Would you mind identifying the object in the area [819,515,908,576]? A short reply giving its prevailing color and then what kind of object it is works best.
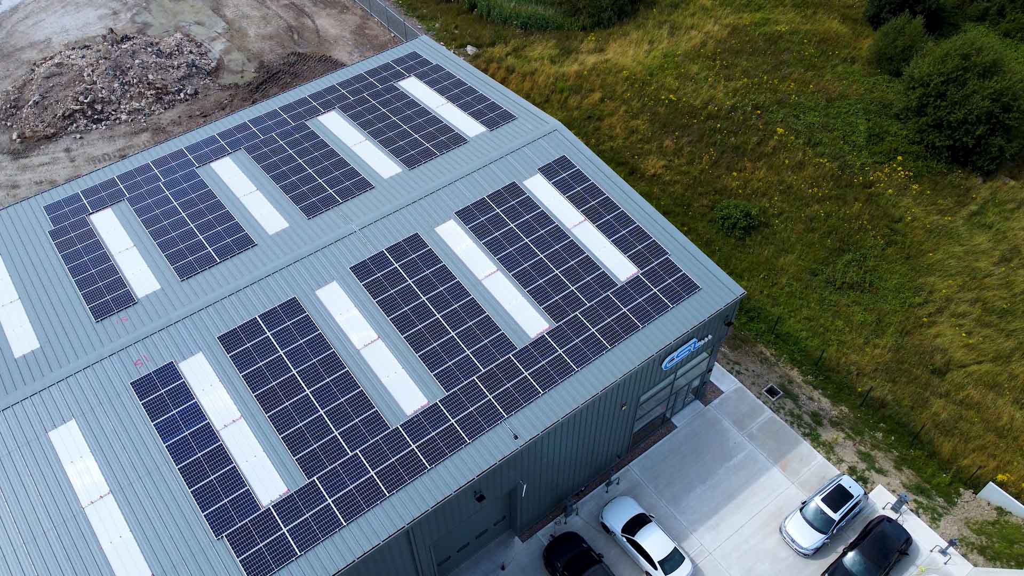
black car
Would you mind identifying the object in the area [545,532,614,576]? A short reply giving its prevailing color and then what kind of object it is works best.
black car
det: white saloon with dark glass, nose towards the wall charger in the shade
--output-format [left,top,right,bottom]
[600,496,690,576]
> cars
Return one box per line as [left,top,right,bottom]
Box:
[545,532,614,576]
[781,472,868,553]
[600,496,690,576]
[819,515,908,576]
